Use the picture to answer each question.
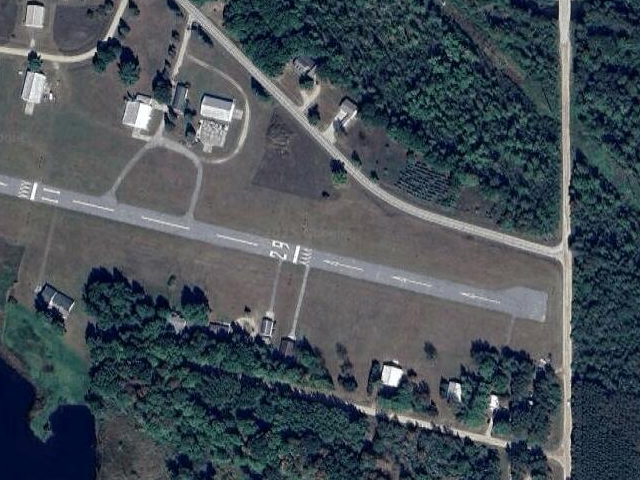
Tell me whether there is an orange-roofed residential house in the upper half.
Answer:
No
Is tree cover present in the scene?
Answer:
Yes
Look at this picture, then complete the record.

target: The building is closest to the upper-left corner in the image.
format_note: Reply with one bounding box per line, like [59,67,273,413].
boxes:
[25,4,44,27]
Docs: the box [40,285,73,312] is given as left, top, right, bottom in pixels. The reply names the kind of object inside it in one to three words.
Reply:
house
